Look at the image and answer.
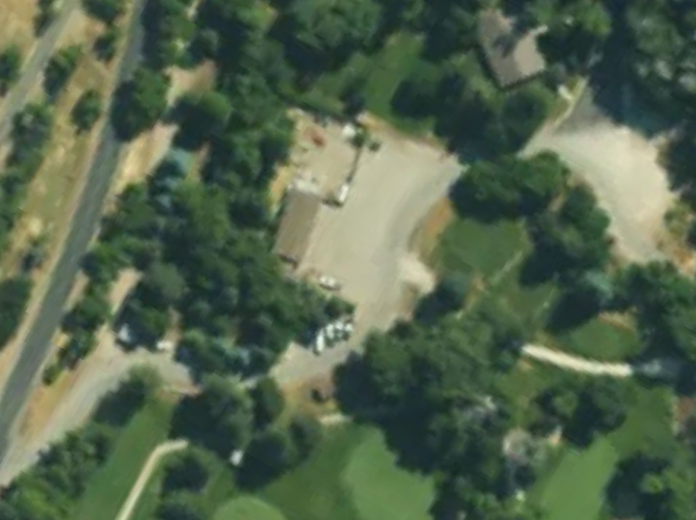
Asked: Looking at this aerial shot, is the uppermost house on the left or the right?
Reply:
right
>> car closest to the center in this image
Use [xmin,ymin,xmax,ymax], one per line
[320,275,339,287]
